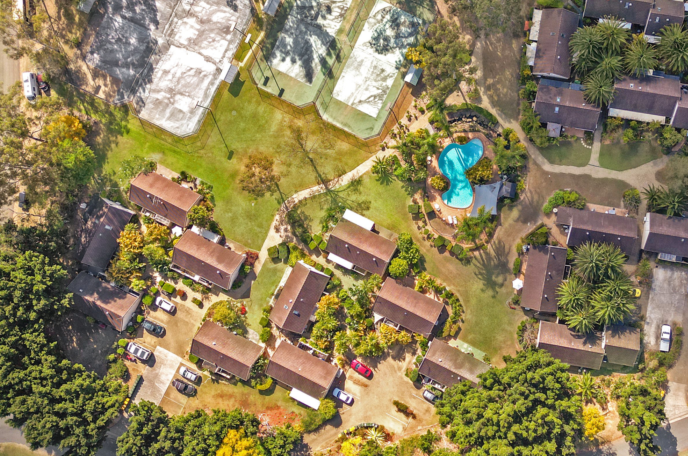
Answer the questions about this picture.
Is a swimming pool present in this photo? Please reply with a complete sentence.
Yes, there's a swimming pool down there.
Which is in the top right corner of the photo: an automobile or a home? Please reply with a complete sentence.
Visible in the top right corner of the photo is a home.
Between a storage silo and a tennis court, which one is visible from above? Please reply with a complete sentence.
There is a tennis court in the scene.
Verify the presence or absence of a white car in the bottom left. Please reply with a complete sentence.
Yes, a white car shows up in the bottom left.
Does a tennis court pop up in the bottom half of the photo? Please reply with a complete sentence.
No, there's no tennis court to be seen in the bottom half of the photo.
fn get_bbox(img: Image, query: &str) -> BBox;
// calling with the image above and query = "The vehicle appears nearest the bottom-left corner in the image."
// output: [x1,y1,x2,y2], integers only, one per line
[128,343,153,360]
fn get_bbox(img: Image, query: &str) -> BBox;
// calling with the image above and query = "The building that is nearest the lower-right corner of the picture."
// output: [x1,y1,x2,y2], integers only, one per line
[602,325,640,367]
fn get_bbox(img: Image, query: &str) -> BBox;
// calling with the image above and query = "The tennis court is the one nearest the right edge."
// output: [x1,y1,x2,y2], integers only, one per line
[317,0,438,139]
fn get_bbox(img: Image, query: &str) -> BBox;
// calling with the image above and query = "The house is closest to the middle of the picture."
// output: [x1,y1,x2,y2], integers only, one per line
[326,209,397,277]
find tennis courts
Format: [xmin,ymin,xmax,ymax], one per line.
[83,0,181,102]
[135,0,254,137]
[317,0,438,139]
[247,0,367,107]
